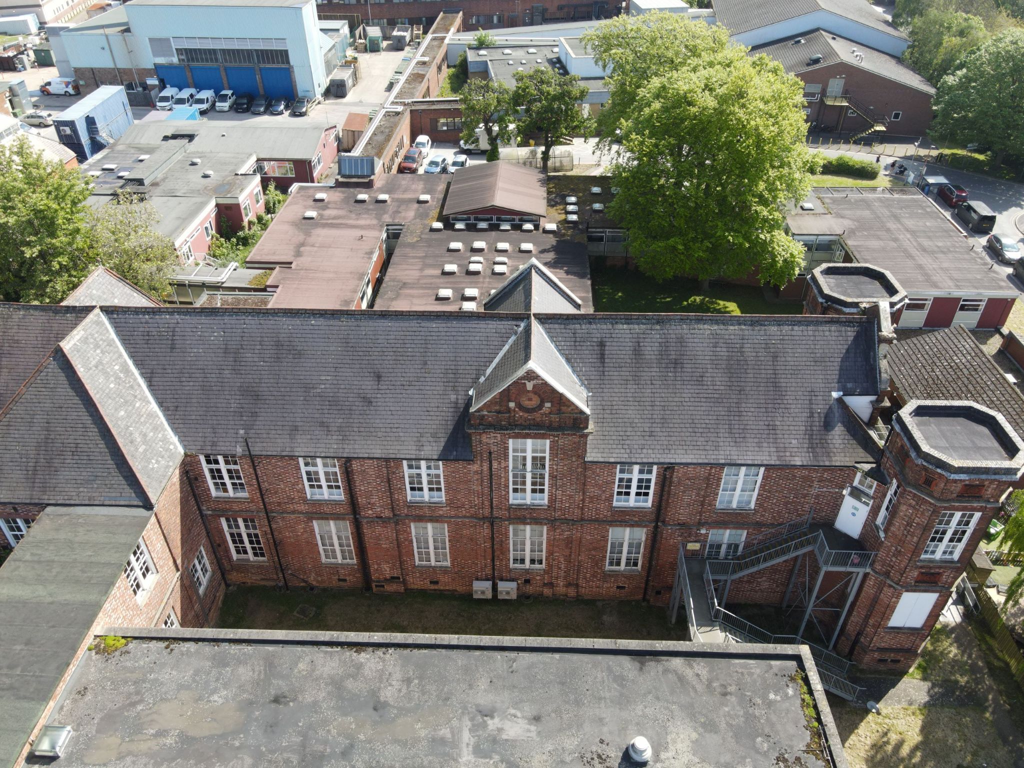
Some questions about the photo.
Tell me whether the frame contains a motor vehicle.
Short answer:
Yes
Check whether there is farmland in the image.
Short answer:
No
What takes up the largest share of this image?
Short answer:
buildings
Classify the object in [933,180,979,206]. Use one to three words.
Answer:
car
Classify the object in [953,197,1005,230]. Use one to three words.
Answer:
van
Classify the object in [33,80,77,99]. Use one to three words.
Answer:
vehicle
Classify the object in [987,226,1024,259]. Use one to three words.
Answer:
car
